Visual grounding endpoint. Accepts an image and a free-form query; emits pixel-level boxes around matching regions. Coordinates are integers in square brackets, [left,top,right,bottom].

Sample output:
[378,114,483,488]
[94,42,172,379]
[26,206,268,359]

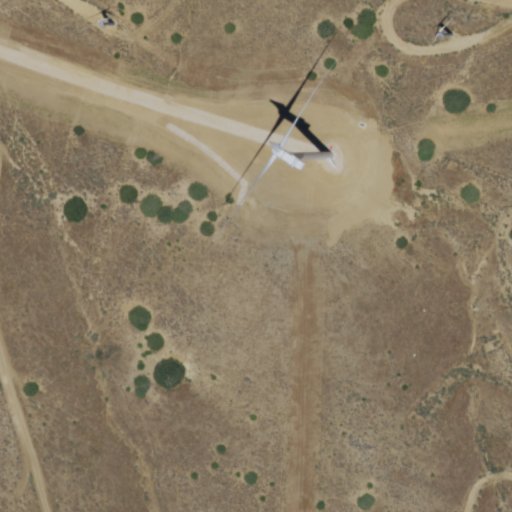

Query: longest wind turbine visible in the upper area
[222,58,340,236]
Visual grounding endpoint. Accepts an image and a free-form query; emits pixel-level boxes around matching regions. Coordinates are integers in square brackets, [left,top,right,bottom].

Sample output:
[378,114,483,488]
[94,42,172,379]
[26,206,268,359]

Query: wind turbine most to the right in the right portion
[428,16,455,44]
